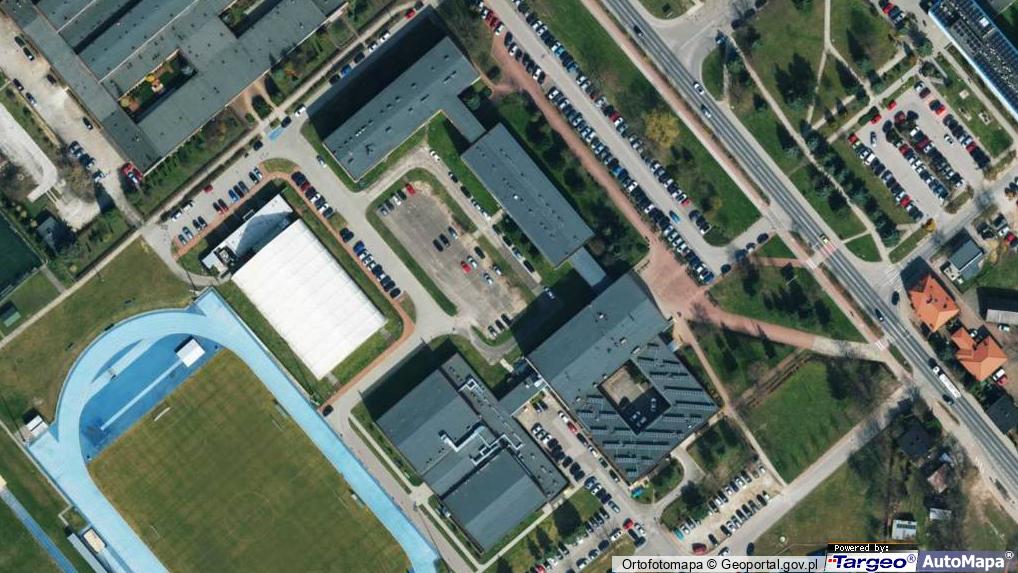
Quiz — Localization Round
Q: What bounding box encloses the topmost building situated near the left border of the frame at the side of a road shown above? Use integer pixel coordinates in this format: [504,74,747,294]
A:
[0,0,352,173]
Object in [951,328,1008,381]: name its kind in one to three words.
house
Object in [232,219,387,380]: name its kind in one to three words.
building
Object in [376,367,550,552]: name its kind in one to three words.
building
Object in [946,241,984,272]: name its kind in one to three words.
house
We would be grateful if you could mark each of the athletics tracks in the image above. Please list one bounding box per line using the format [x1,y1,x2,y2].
[29,285,439,573]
